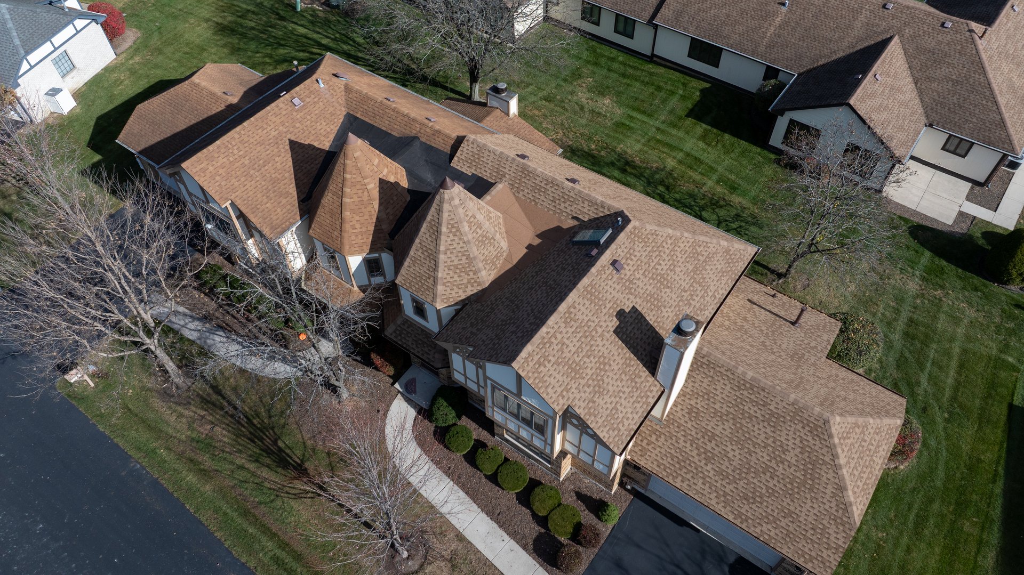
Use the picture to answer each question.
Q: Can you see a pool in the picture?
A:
No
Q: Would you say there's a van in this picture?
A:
No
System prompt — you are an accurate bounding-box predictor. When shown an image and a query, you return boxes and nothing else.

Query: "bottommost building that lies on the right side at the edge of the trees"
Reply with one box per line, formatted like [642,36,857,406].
[384,132,907,575]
